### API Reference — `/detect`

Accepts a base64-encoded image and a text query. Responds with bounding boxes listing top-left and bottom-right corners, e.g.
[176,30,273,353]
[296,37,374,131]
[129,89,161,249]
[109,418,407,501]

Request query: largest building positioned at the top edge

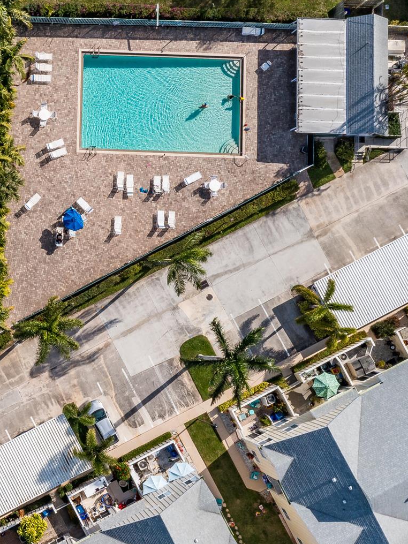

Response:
[288,15,388,137]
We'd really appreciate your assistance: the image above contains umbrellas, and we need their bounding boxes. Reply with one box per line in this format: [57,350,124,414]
[62,207,86,230]
[168,458,193,482]
[141,469,167,494]
[319,371,347,399]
